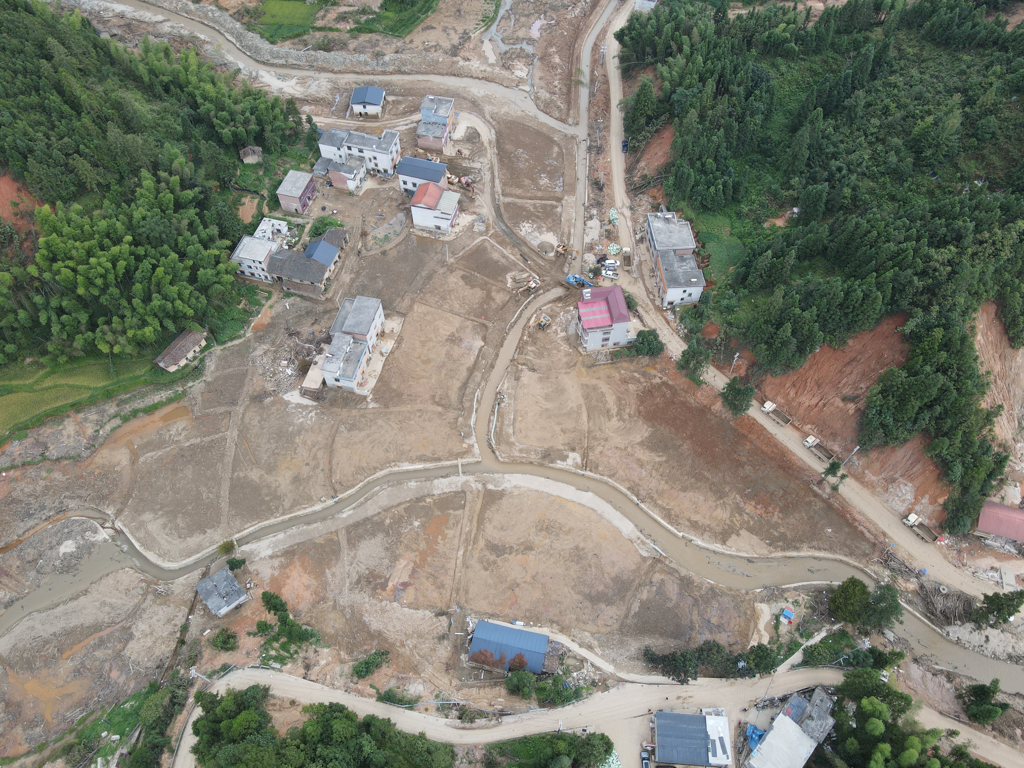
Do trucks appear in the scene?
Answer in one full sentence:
Yes, there's a truck down there.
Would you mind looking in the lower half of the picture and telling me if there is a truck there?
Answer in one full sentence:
Yes, there is a truck in the lower half of the picture.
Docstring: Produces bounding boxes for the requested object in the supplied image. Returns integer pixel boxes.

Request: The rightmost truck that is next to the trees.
[903,507,948,543]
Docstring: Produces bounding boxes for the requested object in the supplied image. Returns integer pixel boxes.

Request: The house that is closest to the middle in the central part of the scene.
[576,286,635,347]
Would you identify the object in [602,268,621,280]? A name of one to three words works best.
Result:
vehicle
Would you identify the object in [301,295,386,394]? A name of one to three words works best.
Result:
house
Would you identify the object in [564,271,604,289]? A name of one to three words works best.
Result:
work vehicle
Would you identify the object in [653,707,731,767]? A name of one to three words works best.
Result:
building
